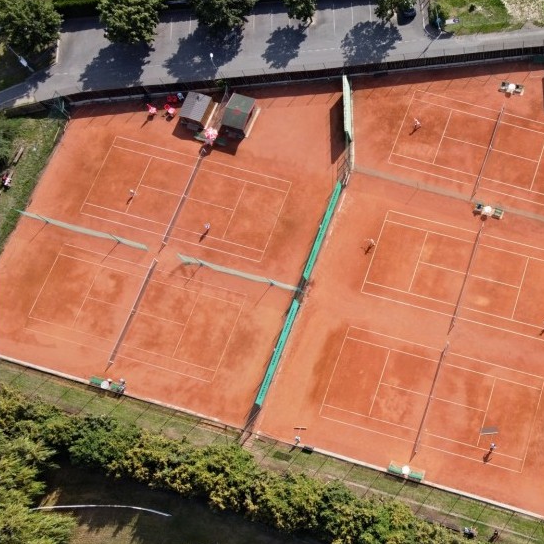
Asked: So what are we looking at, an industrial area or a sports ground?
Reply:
sports ground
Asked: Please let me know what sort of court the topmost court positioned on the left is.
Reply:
tennis court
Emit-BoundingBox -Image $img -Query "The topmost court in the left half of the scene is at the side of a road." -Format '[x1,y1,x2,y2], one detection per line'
[64,124,307,275]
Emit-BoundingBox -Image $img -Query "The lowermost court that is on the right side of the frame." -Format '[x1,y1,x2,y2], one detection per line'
[302,312,544,489]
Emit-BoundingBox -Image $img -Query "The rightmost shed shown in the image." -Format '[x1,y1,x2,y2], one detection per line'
[222,93,259,136]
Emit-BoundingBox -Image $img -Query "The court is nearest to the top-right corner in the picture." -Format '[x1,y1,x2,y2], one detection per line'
[372,77,544,216]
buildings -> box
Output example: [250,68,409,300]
[179,92,216,128]
[222,93,259,136]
